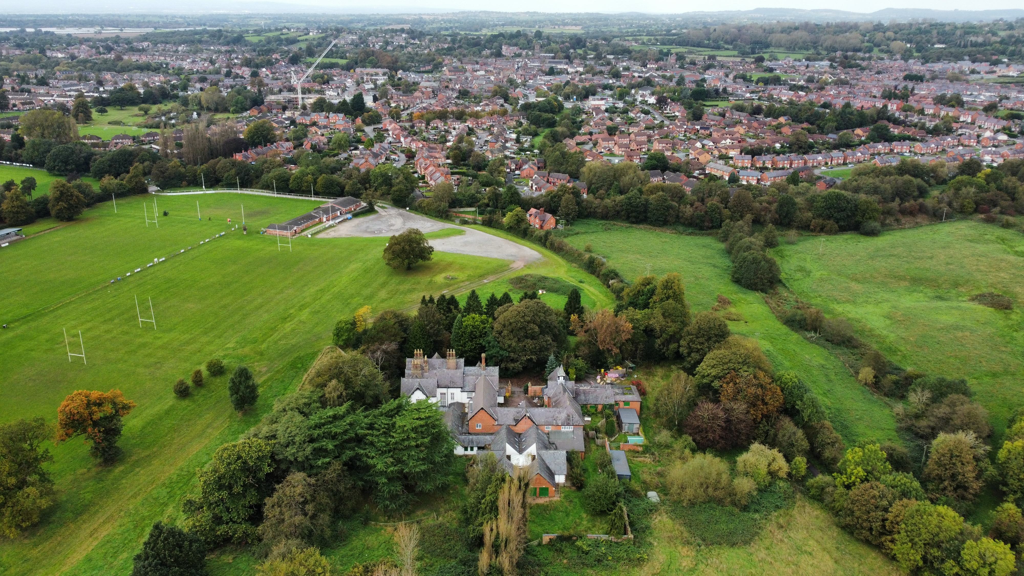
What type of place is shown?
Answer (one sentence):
What you see here is a residential area.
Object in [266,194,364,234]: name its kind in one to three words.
building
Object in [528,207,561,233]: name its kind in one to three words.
house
